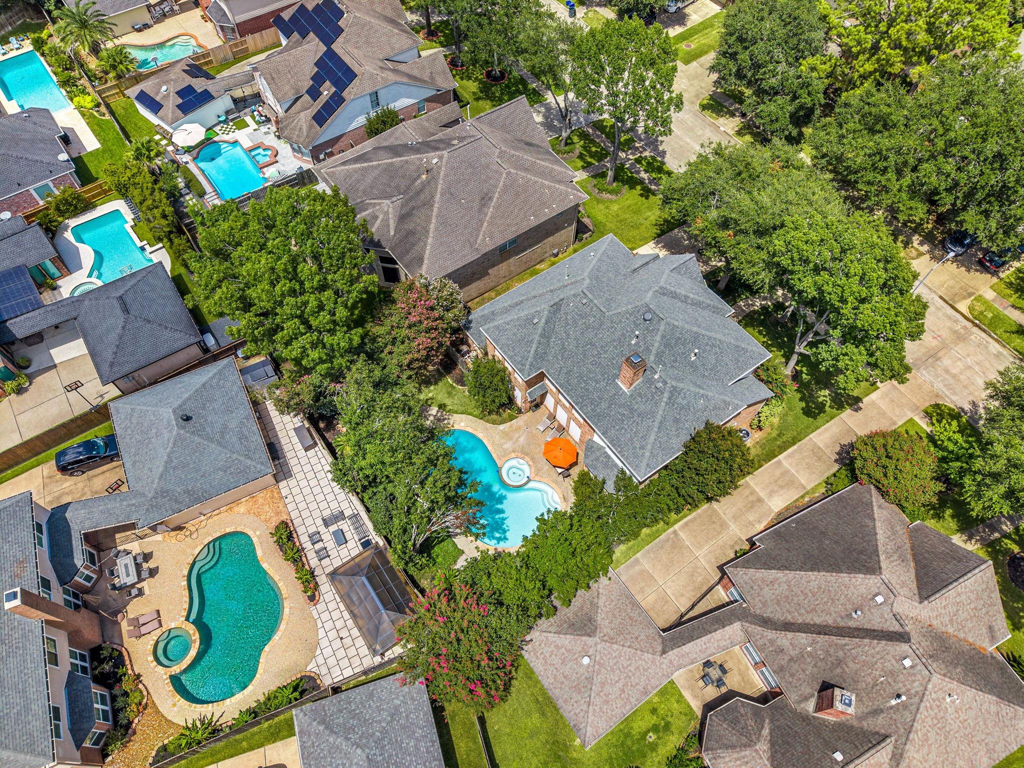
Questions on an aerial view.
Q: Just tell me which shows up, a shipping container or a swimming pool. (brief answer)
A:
swimming pool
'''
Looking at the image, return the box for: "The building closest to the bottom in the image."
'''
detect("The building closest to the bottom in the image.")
[292,672,447,768]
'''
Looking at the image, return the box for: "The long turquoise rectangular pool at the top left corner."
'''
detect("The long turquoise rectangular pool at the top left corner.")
[0,48,73,113]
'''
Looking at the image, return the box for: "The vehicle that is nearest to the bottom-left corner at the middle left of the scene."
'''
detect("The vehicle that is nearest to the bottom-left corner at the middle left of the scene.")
[51,430,119,477]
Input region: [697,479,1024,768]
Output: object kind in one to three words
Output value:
house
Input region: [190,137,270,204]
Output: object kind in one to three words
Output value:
swimming pool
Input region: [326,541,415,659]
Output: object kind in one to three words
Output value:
gazebo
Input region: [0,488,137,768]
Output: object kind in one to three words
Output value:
building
